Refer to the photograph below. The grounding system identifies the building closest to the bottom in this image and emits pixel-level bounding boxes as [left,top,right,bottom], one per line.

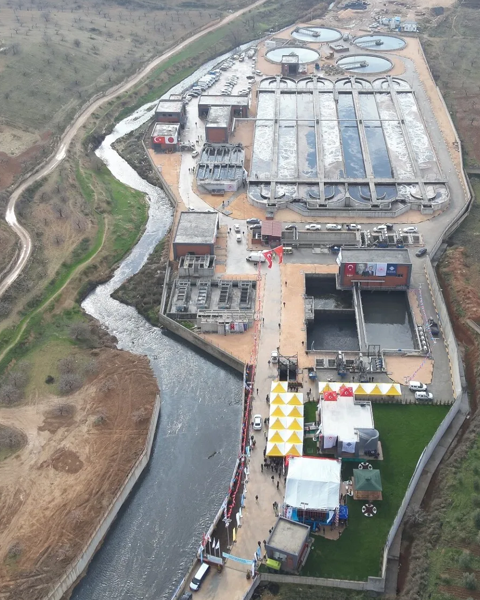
[262,517,318,575]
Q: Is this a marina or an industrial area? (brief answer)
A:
industrial area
